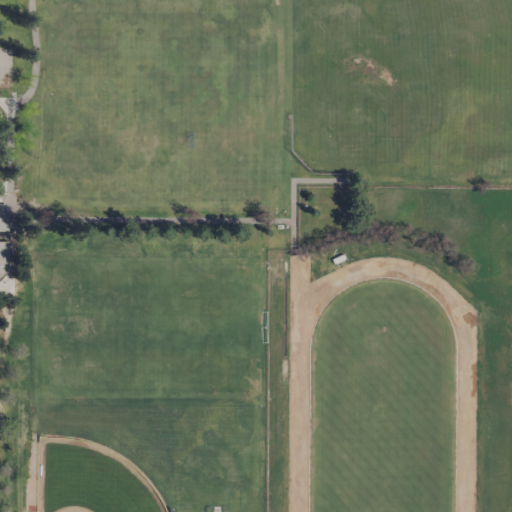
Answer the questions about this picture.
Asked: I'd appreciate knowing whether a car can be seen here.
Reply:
No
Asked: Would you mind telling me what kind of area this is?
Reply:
sports ground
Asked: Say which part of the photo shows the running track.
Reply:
bottom right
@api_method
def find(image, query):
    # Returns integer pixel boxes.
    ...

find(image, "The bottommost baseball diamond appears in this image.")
[38,436,166,512]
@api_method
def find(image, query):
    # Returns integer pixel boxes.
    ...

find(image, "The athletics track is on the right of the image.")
[289,255,478,512]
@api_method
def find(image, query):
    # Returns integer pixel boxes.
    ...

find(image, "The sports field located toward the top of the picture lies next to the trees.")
[44,0,276,206]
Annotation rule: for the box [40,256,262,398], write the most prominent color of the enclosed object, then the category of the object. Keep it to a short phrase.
green sports field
